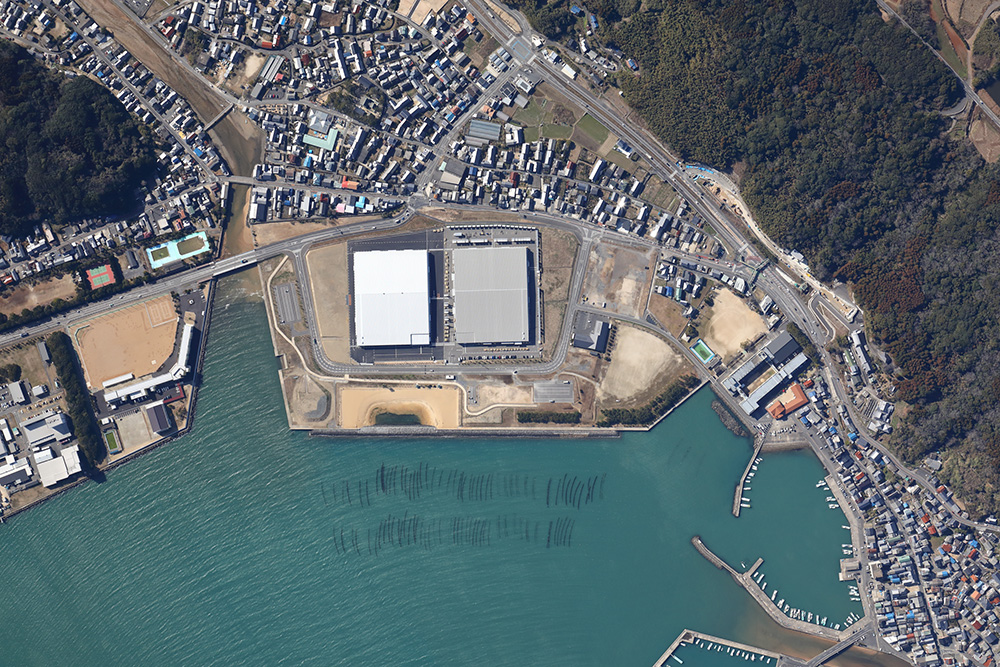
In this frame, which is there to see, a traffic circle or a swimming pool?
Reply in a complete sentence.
The image shows a swimming pool.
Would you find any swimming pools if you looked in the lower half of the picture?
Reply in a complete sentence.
Yes, a swimming pool shows up in the lower half of the picture.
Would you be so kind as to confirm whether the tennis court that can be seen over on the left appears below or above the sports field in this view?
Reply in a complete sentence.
Looking at the photo, you'll find the tennis court that can be seen over on the left above the sports field.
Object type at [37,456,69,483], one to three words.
building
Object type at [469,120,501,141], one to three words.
greenhouse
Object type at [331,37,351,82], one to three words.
building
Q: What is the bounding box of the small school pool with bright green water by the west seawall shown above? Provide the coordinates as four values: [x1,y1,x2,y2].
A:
[104,430,123,454]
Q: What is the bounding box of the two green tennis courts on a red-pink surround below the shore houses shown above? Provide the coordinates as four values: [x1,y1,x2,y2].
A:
[86,264,115,286]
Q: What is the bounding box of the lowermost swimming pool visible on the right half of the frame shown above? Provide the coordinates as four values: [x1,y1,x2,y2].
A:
[689,339,715,363]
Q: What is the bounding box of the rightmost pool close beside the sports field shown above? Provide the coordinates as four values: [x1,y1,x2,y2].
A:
[146,231,211,269]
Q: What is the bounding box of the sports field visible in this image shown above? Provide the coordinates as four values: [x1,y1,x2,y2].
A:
[70,294,178,389]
